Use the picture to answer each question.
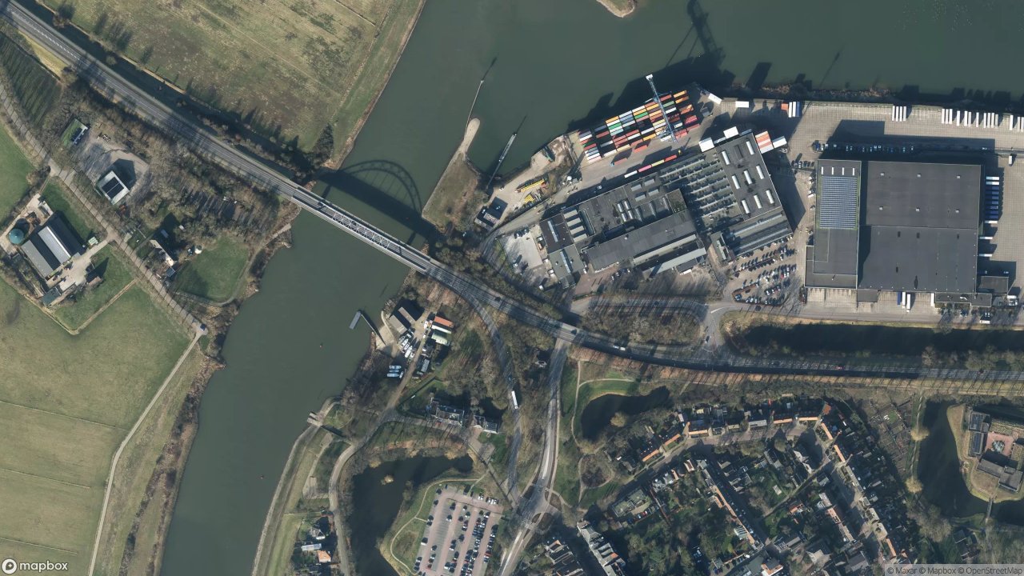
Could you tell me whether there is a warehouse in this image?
Yes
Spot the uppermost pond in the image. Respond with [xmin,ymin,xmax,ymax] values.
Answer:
[581,386,669,439]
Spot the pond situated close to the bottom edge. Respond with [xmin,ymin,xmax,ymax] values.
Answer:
[349,454,472,576]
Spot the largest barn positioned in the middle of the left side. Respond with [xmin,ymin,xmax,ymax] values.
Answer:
[21,219,81,278]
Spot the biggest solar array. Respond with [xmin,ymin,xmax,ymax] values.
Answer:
[821,176,858,228]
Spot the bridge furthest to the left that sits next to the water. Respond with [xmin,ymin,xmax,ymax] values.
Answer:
[296,185,436,275]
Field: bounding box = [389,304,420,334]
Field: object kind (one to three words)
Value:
shed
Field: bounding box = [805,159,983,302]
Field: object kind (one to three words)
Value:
warehouse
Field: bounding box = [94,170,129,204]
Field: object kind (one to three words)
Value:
building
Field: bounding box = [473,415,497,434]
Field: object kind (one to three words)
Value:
house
